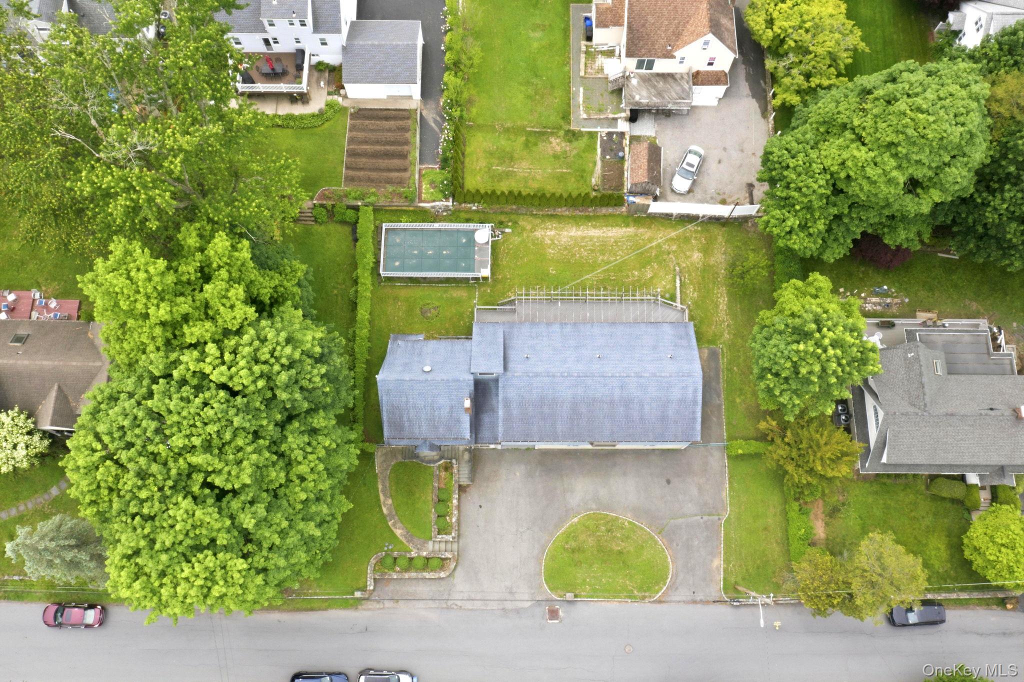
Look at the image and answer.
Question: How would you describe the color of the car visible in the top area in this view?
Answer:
white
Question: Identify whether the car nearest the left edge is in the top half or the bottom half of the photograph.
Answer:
bottom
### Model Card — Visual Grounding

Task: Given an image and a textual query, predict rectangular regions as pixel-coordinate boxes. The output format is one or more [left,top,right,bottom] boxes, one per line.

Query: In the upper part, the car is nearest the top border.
[672,145,703,196]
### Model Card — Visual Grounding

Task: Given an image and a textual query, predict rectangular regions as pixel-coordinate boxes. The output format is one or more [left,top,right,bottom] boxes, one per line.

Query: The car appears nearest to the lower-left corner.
[42,600,109,632]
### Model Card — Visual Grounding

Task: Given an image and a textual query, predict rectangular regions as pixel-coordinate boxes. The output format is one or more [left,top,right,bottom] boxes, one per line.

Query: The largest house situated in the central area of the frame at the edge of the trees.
[374,321,703,456]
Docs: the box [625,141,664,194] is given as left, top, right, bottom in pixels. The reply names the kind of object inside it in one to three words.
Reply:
shed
